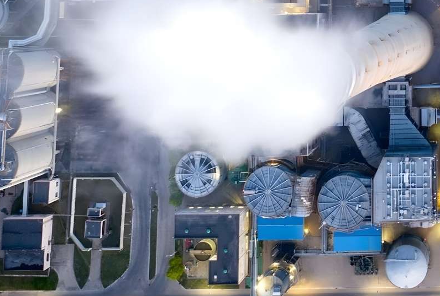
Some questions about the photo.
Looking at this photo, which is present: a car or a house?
house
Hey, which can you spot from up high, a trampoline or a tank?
tank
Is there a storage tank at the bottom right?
Yes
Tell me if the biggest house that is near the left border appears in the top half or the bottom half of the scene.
bottom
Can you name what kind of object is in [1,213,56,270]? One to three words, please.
house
